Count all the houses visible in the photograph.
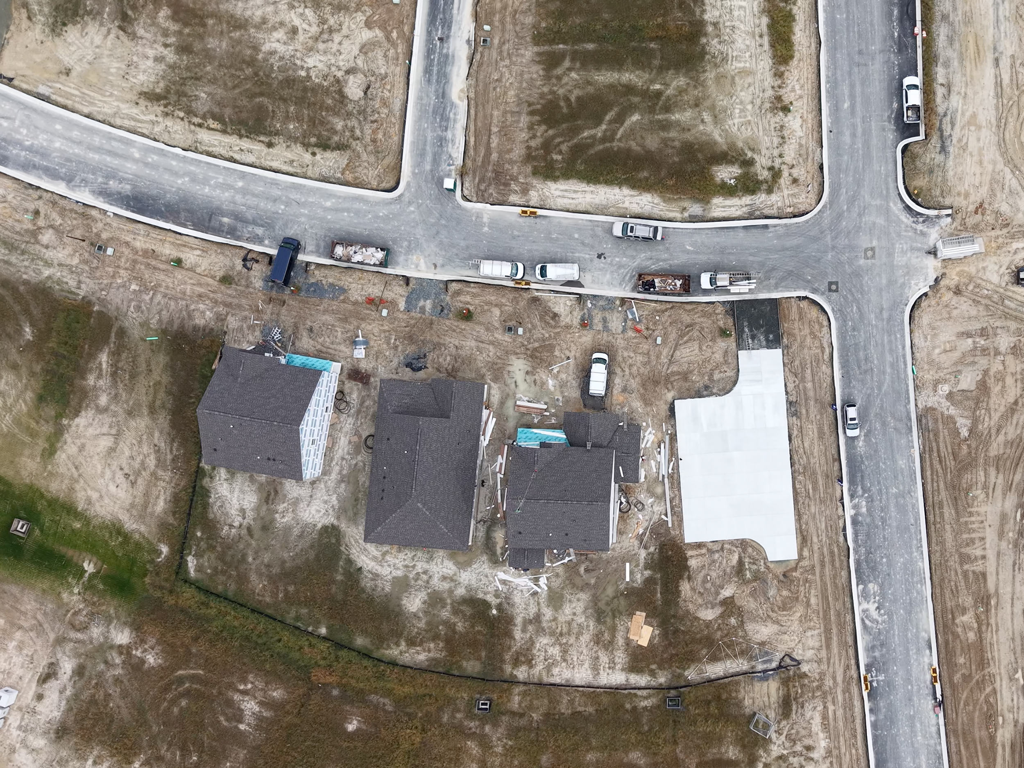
3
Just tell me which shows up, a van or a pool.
van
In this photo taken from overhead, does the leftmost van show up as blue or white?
blue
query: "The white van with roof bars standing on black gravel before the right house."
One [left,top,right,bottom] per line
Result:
[590,351,610,398]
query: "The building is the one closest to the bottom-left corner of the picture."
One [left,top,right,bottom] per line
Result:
[197,343,341,481]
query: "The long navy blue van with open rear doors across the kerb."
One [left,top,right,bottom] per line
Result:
[259,236,303,288]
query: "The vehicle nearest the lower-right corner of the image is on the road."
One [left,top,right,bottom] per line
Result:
[843,401,862,438]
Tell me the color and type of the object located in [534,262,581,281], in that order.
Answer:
white vehicle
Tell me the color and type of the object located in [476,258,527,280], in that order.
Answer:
white vehicle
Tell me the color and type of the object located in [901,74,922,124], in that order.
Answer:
white truck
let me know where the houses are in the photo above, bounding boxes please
[197,343,341,481]
[506,412,642,568]
[364,378,487,551]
